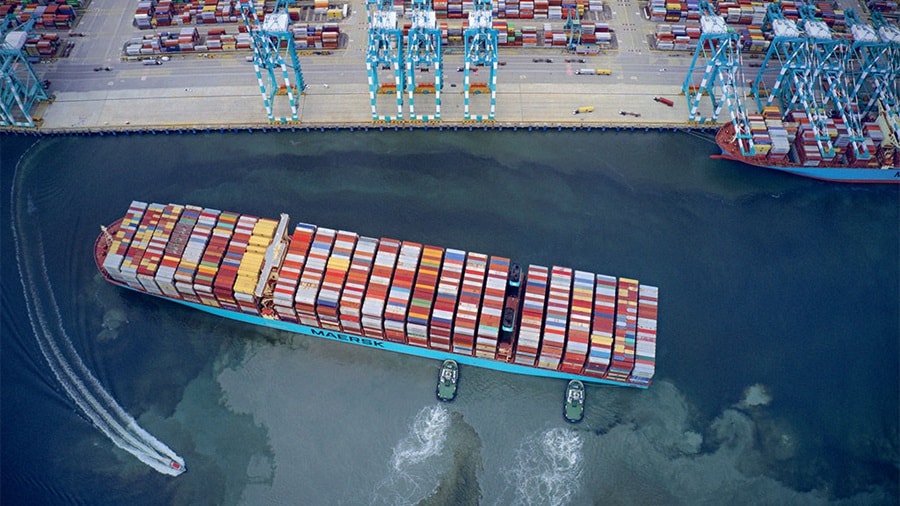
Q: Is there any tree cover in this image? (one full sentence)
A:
No, there's no tree cover in this view.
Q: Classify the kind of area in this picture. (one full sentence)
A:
This image shows a port.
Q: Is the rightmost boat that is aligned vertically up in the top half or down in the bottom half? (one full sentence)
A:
The rightmost boat that is aligned vertically sits in the bottom half of the picture.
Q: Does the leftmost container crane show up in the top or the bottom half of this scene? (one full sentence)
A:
Seen from above, the leftmost container crane lies in the top half of the view.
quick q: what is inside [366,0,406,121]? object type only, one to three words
container crane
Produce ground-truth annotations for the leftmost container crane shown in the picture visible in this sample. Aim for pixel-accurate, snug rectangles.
[0,15,49,126]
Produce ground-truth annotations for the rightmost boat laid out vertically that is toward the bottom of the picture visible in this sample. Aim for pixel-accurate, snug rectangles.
[562,380,584,427]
